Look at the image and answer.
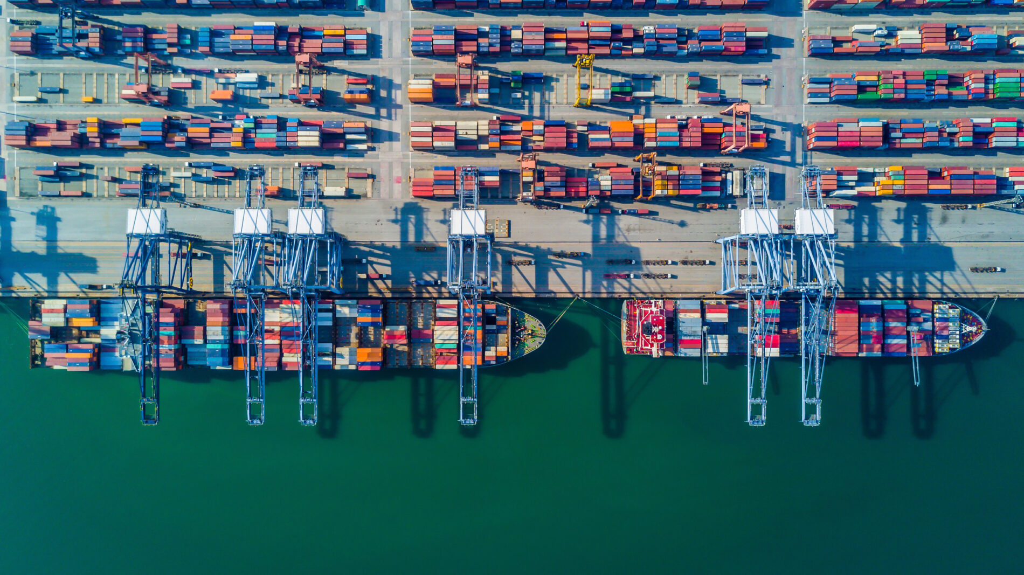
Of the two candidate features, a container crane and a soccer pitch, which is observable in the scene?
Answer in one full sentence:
The one in the frame is a container crane.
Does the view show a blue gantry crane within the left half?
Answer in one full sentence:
Yes, a blue gantry crane shows up within the left half.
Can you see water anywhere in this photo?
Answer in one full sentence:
Yes, some water is visible.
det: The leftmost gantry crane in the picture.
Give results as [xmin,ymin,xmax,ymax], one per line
[51,0,97,58]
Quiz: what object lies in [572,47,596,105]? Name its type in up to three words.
container crane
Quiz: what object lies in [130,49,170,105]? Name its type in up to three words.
container crane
